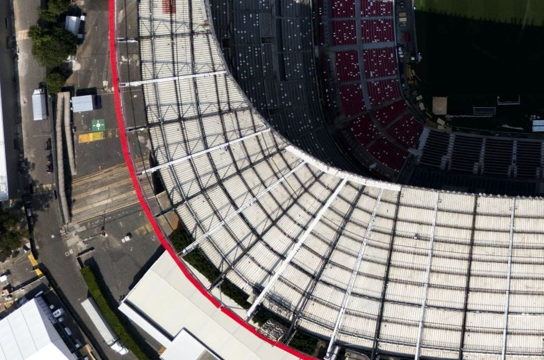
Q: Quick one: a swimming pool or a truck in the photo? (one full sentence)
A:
Visible in the photo is a truck.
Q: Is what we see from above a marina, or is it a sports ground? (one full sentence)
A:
What you see here is a sports ground.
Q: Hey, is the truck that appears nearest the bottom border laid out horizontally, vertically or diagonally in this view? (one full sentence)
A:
I'd say the truck that appears nearest the bottom border is aligned diagonally in the picture.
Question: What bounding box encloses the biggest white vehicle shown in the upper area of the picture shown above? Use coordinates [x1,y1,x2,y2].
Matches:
[29,89,45,121]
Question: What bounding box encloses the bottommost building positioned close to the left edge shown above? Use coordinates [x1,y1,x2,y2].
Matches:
[0,285,94,360]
